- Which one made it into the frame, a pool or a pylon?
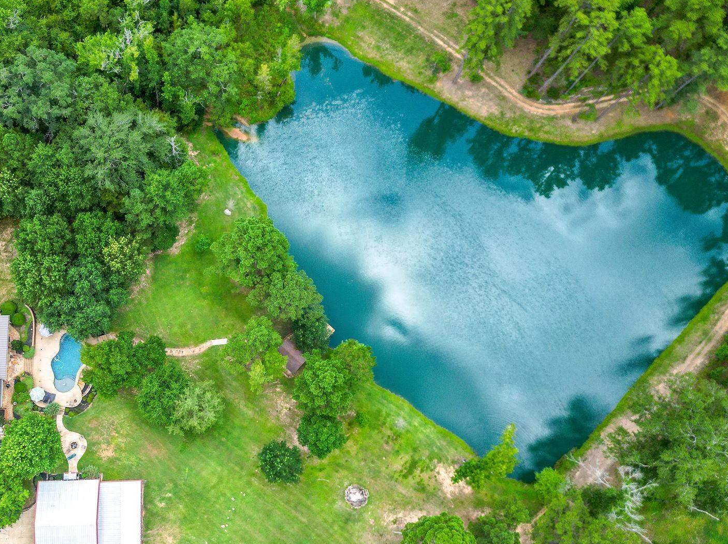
pool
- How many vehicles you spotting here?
0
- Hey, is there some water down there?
Yes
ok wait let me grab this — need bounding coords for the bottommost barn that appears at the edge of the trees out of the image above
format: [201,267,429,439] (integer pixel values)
[31,479,143,544]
